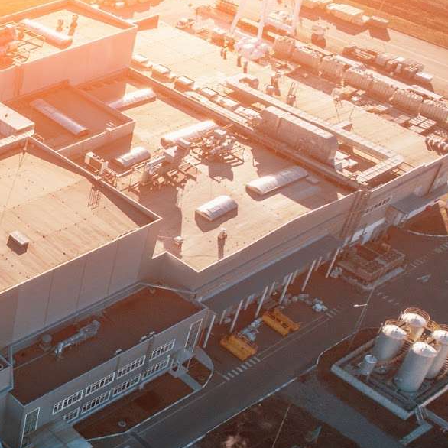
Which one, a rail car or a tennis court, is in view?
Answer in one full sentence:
Visible in the photo is a rail car.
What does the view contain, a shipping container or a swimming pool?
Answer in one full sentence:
Of the two, only a shipping container appears.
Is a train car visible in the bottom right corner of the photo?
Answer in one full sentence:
No, no train car appears in the bottom right corner of the photo.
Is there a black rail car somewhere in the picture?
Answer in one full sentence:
No, this view has no black rail car in it.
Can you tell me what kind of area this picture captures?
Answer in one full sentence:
What you see here is an industrial area.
